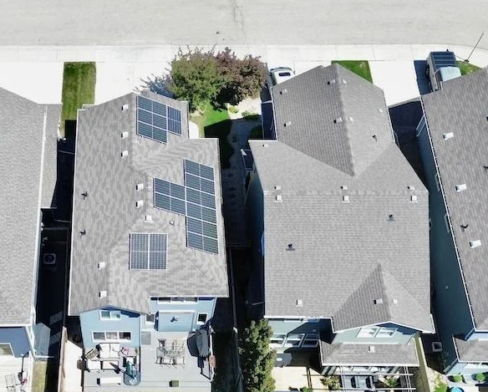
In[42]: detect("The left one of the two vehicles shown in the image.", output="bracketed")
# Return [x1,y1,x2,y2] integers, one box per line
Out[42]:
[272,64,301,89]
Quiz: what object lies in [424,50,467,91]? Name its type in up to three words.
truck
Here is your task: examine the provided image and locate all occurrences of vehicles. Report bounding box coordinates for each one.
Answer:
[272,64,301,89]
[424,50,467,91]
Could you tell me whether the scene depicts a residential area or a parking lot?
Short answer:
residential area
